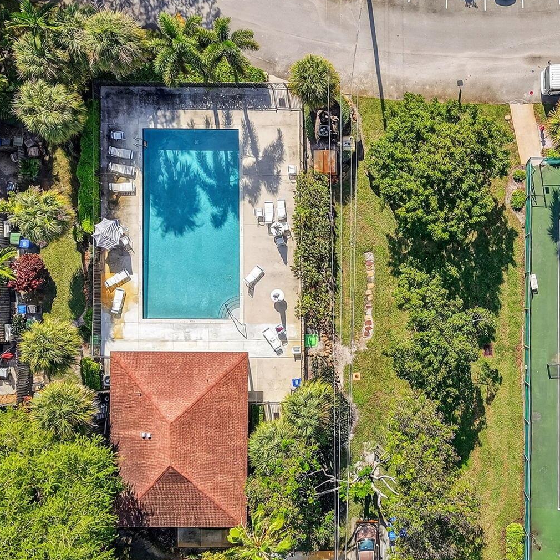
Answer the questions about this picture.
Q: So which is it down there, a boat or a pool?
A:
pool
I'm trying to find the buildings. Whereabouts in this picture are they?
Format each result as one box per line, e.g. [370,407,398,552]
[109,350,250,529]
[314,149,339,177]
